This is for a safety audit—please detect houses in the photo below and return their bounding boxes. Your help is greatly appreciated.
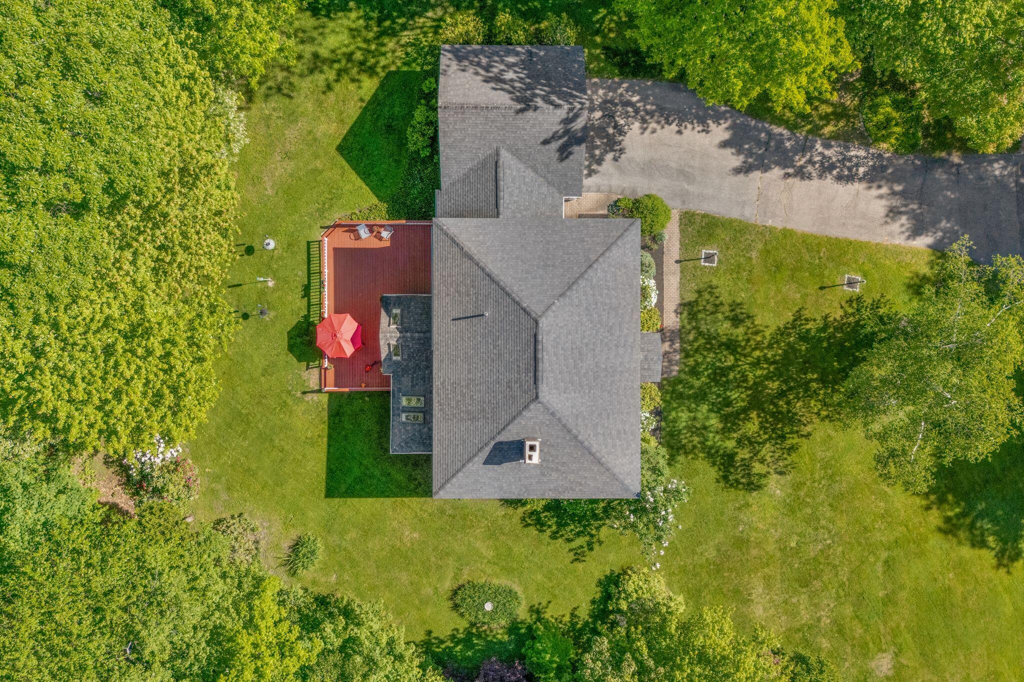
[379,45,663,500]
